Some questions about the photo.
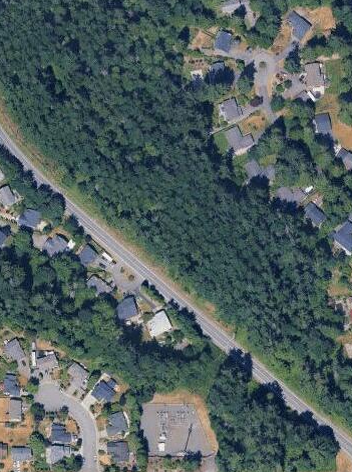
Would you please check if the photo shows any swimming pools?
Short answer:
No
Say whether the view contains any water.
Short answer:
No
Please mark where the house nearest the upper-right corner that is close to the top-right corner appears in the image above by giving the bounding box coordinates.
[286,10,313,37]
